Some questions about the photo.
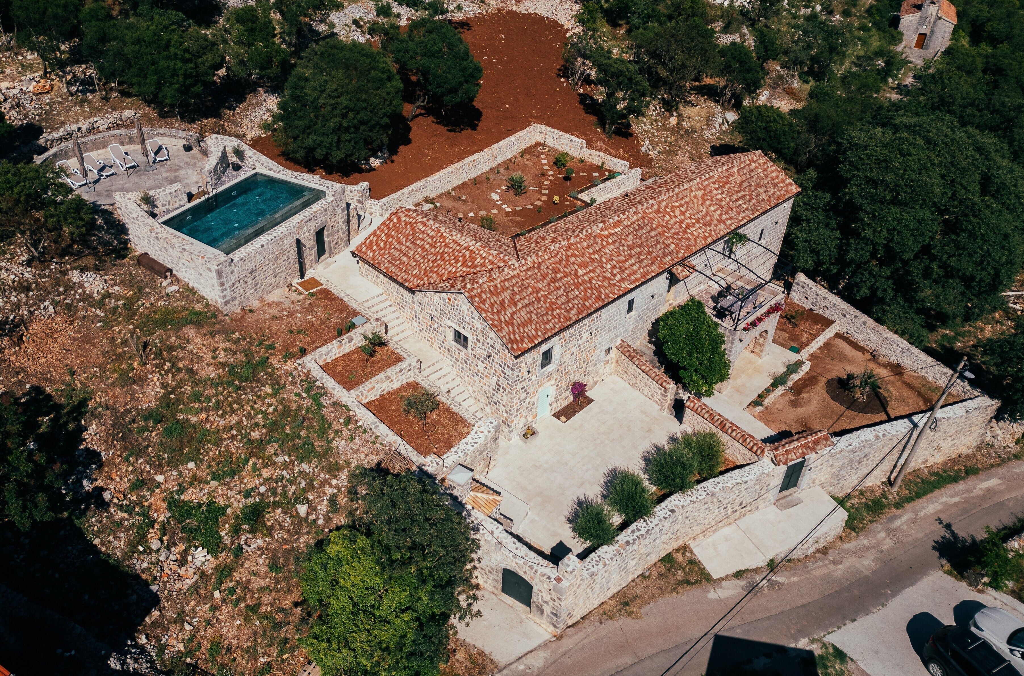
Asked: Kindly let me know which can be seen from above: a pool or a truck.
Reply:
pool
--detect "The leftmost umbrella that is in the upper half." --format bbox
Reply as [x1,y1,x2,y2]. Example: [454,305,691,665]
[76,144,95,191]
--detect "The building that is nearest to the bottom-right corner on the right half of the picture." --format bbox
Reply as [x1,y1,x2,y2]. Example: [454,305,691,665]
[767,436,829,511]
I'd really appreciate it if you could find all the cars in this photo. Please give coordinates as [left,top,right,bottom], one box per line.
[971,613,1024,676]
[933,624,1023,676]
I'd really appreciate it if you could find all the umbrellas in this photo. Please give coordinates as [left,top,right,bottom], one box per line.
[139,125,156,169]
[76,144,95,191]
